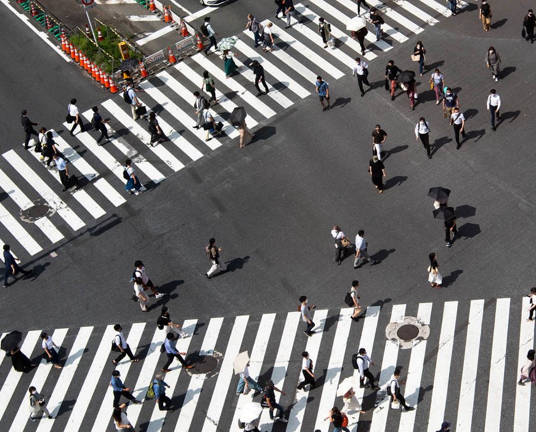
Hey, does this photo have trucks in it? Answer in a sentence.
No, no truck is visible in the scene.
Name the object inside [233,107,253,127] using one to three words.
umbrella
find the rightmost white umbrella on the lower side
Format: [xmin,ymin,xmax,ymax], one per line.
[335,377,363,401]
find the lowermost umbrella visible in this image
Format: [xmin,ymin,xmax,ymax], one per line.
[239,400,268,429]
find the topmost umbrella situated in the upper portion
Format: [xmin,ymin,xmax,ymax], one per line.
[347,21,368,38]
